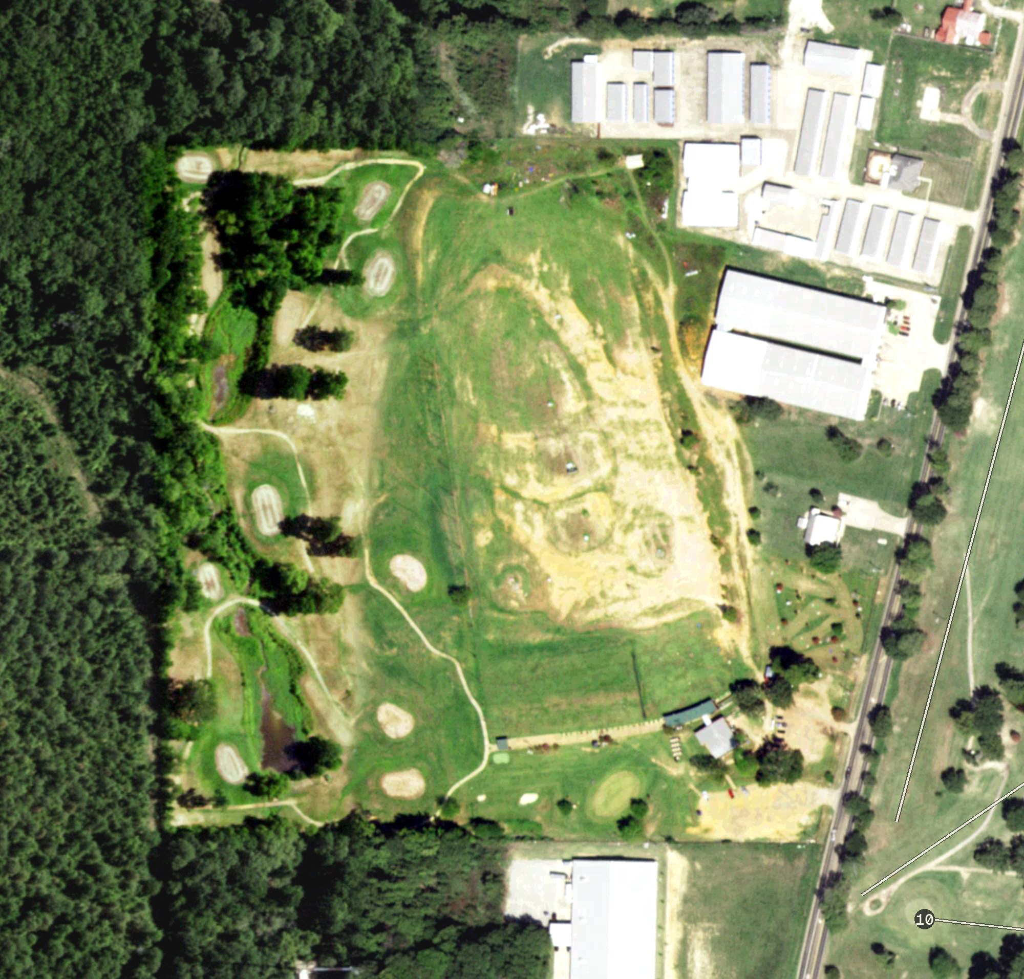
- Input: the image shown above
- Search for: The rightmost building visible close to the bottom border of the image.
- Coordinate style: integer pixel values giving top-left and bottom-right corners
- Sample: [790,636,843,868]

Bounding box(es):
[571,861,659,979]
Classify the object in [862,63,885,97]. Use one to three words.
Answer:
shed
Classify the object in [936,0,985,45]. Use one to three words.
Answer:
house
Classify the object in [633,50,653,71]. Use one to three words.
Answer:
building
